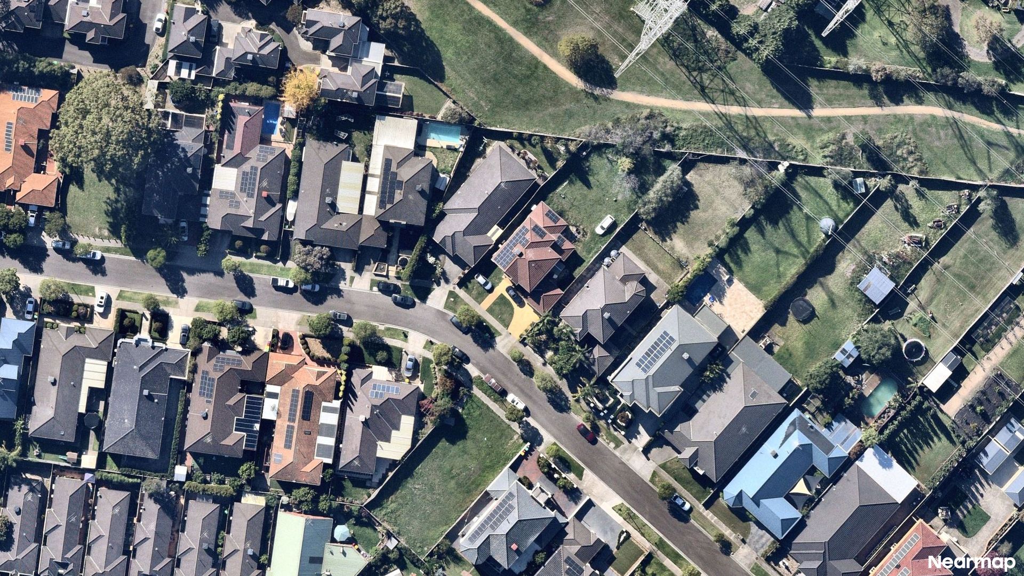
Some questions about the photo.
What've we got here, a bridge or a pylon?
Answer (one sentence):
Of the two, only a pylon appears.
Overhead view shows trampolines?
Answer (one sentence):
Yes, I can see a trampoline in this picture.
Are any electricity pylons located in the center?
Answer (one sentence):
No, looking in the center, there is no electricity pylon.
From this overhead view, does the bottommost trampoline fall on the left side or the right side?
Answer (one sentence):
The bottommost trampoline is on the right side of the image.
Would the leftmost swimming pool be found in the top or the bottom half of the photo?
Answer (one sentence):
It is in the top half that the leftmost swimming pool appears.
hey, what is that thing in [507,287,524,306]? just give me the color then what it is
black car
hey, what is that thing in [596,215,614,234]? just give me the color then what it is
white car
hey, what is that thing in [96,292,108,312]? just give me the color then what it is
white vehicle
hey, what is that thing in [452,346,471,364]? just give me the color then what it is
black car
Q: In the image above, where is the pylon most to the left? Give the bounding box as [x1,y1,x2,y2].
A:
[616,0,714,76]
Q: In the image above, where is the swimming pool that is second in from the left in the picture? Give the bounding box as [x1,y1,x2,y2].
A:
[426,122,462,145]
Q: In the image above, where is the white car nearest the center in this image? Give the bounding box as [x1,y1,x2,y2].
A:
[475,273,492,290]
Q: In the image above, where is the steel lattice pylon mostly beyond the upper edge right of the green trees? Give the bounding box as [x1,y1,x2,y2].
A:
[822,0,863,37]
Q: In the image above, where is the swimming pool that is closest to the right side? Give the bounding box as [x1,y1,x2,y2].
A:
[859,377,900,419]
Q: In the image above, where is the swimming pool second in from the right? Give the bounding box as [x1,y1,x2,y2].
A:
[685,272,718,308]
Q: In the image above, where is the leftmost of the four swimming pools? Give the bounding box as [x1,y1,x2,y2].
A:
[261,101,282,136]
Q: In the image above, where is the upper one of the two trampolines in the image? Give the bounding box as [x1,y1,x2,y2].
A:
[790,296,815,322]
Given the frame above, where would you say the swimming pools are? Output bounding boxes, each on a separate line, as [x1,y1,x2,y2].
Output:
[859,377,900,419]
[426,122,462,145]
[261,101,282,136]
[685,272,718,308]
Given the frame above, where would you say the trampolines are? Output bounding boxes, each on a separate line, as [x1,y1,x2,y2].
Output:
[790,296,815,322]
[903,339,925,361]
